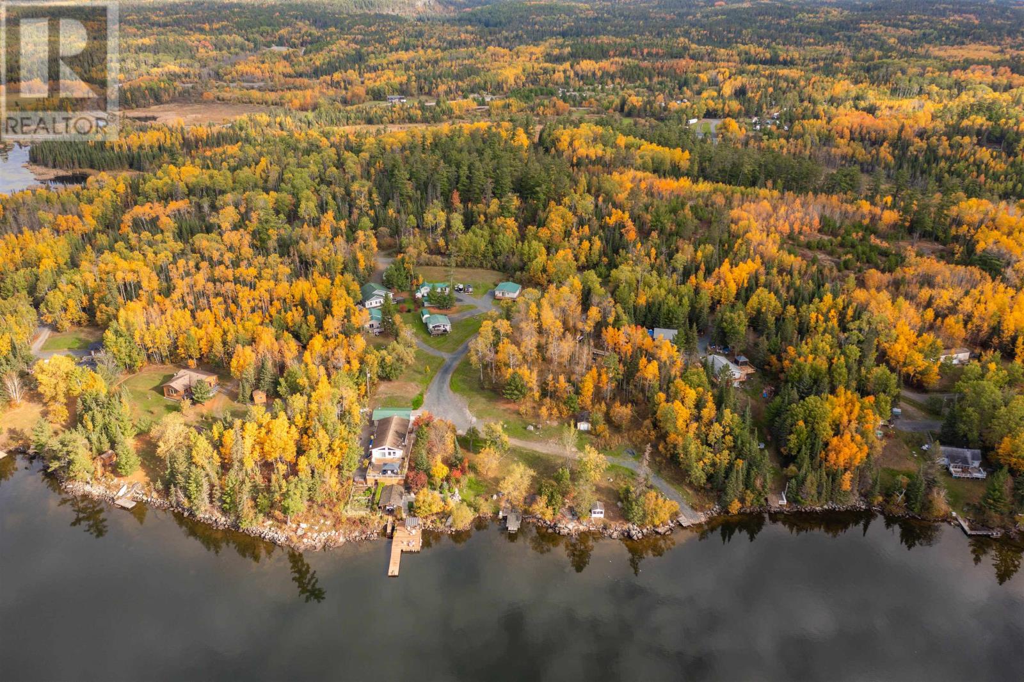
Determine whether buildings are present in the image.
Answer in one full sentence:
Yes, a building can be made out from above.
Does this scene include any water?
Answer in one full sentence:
Yes, water can be seen from above here.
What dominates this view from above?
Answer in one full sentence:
The scene is dominated by trees.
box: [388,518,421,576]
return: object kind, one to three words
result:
pier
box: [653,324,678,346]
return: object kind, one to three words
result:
building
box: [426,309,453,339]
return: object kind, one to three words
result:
building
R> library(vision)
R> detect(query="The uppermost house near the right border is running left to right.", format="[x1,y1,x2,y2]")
[933,345,975,365]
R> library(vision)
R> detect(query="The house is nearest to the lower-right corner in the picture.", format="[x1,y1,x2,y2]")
[923,435,988,485]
